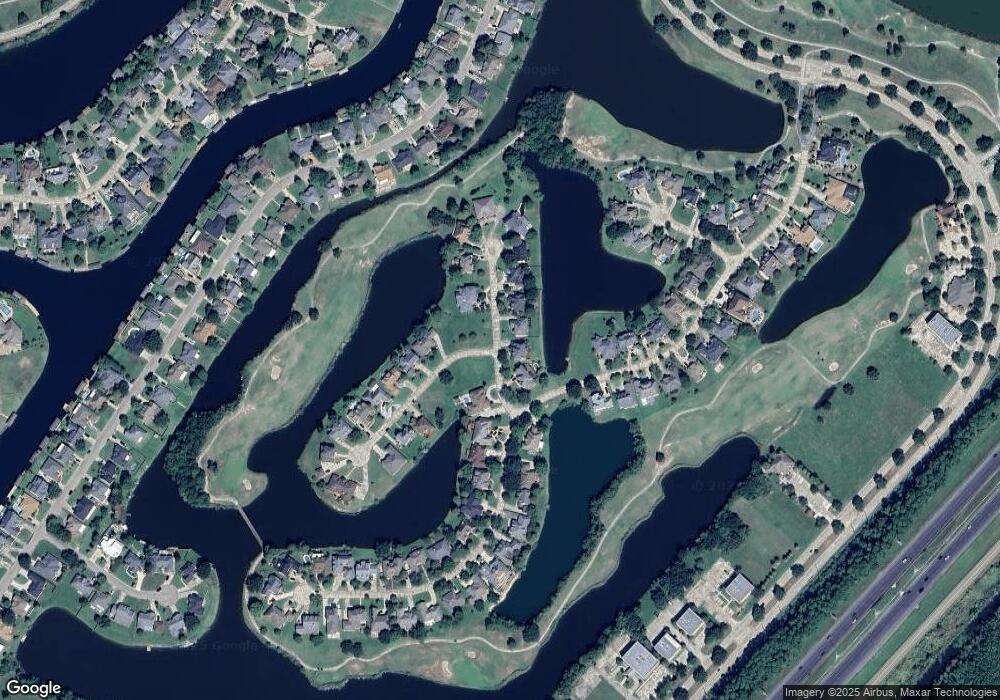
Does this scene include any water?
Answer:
Yes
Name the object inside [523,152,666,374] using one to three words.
pond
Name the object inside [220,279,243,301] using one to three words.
house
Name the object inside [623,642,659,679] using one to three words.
building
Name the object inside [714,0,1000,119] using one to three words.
golf course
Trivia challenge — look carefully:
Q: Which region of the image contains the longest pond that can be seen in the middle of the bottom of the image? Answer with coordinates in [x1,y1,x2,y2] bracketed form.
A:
[497,404,635,623]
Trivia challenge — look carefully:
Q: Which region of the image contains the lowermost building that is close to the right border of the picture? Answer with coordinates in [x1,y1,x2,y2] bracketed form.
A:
[924,312,964,347]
